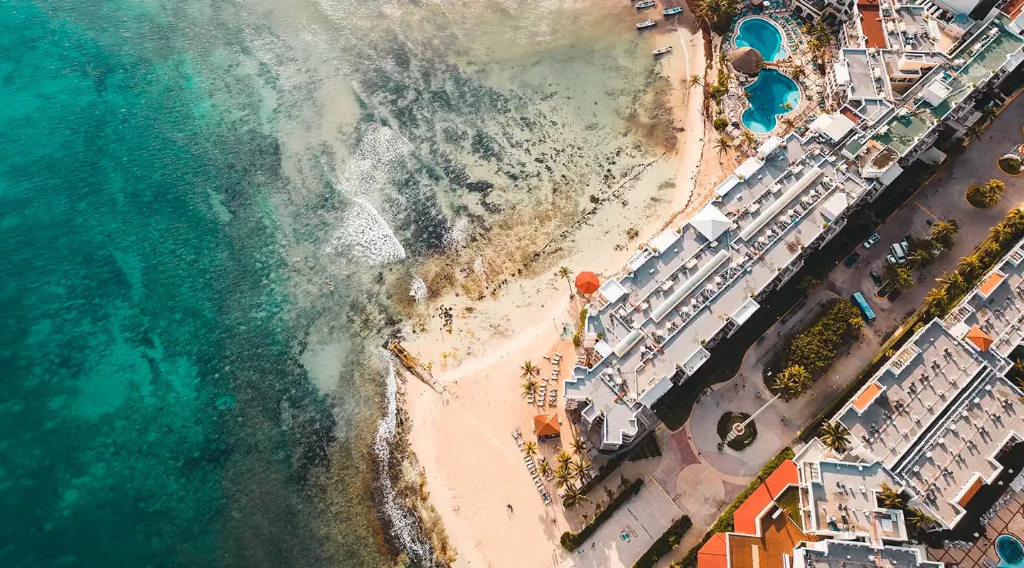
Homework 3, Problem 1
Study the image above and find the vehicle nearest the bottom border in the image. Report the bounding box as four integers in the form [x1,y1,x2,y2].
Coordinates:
[851,286,883,323]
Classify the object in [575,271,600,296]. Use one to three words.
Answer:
gazebo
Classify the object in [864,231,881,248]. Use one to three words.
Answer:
vehicle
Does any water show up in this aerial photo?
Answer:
Yes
